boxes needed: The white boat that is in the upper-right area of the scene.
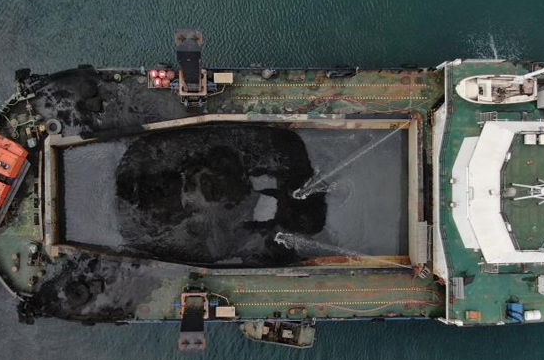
[456,75,538,104]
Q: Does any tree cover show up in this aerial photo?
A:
No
